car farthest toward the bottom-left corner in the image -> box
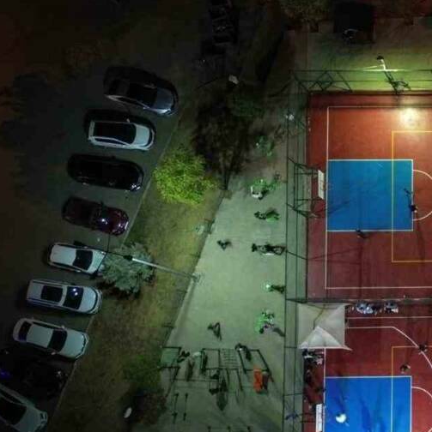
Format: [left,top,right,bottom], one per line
[0,382,49,432]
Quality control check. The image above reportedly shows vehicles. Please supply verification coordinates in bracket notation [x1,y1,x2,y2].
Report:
[44,241,113,278]
[27,280,106,316]
[86,117,161,154]
[108,72,180,115]
[68,154,147,193]
[0,352,68,394]
[0,382,49,432]
[61,197,132,236]
[15,319,90,358]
